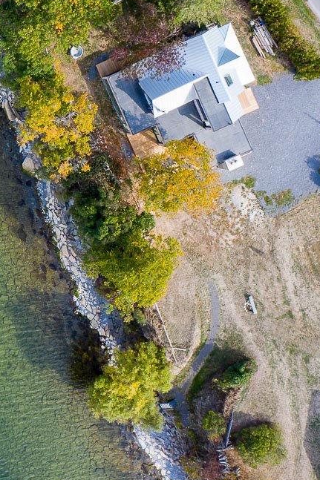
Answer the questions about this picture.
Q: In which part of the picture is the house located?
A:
top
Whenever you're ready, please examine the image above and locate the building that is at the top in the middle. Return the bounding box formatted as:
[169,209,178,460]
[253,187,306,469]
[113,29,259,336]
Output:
[95,23,260,172]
